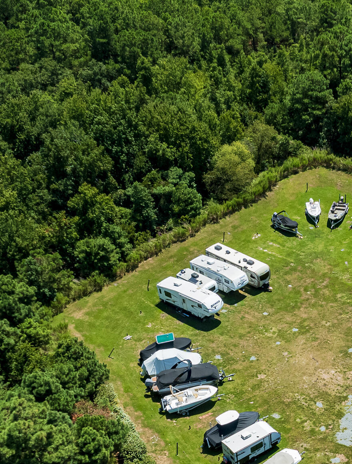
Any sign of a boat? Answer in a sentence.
Yes, the picture does show a boat.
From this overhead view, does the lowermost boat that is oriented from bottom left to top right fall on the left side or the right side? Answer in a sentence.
You can find the lowermost boat that is oriented from bottom left to top right on the right side of the picture.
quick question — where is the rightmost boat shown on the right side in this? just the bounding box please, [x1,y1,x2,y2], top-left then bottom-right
[327,194,347,219]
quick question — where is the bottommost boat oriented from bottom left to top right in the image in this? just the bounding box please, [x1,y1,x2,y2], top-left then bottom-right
[202,409,259,451]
